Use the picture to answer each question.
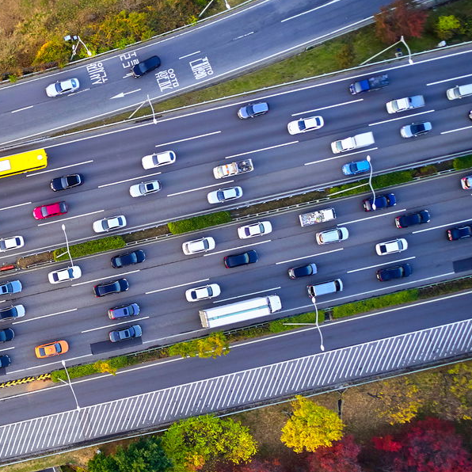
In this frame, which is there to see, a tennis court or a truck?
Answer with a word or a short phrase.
truck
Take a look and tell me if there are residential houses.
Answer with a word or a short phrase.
No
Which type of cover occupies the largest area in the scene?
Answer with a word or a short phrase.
paved ground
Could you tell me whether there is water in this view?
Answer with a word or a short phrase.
No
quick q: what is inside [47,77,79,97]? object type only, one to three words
car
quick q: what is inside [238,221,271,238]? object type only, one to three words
car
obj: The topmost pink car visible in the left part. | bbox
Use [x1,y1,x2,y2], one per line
[34,201,66,219]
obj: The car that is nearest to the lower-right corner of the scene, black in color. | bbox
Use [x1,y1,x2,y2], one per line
[376,263,409,281]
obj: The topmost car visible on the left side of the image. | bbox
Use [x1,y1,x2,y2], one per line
[130,56,163,77]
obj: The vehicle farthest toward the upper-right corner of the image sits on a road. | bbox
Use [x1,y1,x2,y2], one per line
[444,83,472,101]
